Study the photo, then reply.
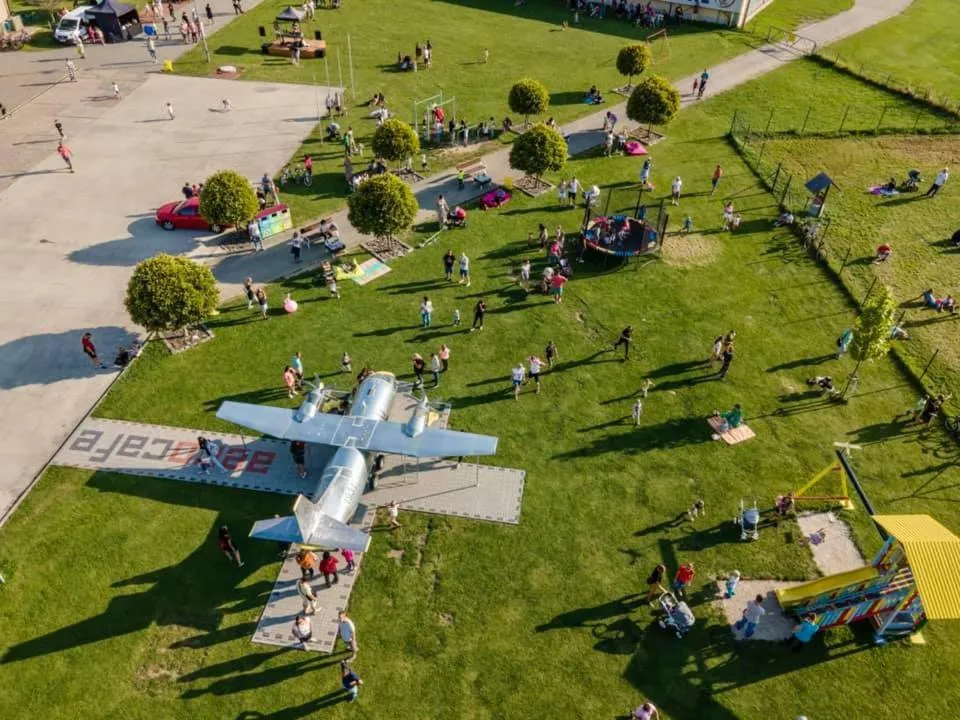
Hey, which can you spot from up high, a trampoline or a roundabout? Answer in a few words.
trampoline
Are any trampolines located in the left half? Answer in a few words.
No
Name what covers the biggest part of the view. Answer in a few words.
grass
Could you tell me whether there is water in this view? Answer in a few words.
No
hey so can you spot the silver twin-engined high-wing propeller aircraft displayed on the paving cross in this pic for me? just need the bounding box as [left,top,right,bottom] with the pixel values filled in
[213,367,498,556]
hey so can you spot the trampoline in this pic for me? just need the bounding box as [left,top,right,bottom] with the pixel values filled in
[580,184,666,269]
